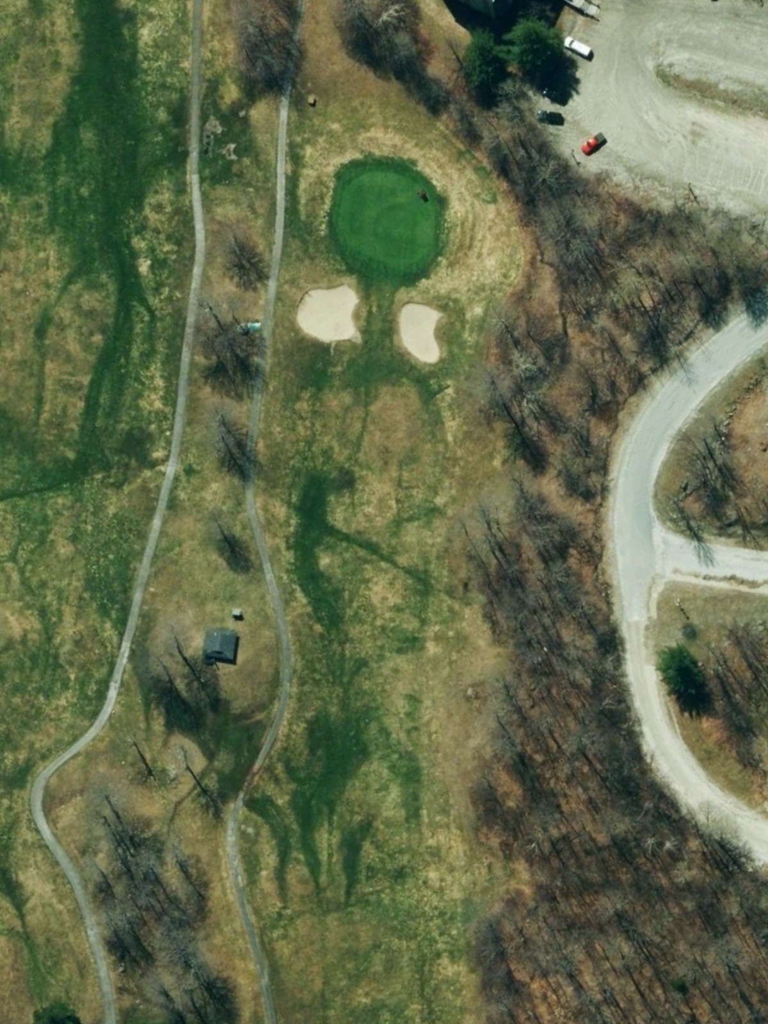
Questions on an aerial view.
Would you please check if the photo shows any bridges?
No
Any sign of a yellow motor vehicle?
No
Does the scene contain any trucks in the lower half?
No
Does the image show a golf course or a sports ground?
golf course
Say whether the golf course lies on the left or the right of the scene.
left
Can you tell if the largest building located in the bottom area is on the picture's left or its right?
left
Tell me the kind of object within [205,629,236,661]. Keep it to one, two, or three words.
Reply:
building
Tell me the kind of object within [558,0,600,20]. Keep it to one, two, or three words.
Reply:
vehicle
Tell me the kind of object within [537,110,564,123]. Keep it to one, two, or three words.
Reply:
vehicle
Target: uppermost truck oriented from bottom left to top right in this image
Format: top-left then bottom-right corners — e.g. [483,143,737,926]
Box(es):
[581,131,607,155]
